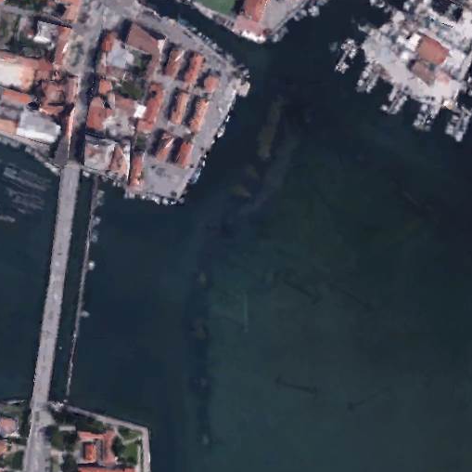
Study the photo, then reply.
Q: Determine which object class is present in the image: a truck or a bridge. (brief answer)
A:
bridge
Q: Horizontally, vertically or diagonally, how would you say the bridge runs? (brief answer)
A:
vertically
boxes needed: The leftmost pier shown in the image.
[66,178,96,401]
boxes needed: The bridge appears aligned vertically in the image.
[30,162,79,404]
